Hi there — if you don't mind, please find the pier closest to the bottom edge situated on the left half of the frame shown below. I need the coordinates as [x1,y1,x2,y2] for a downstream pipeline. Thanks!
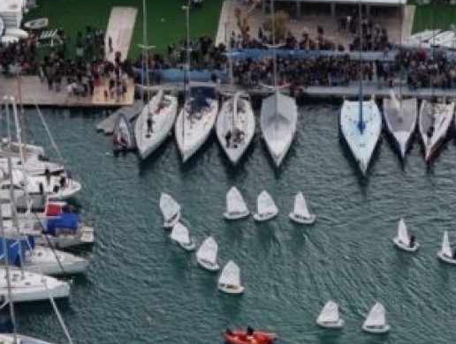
[97,107,140,138]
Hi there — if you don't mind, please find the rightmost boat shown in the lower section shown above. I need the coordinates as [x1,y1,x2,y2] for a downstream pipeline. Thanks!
[437,235,456,265]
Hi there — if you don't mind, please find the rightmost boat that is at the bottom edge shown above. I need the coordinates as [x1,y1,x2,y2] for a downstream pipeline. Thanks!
[359,305,390,335]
